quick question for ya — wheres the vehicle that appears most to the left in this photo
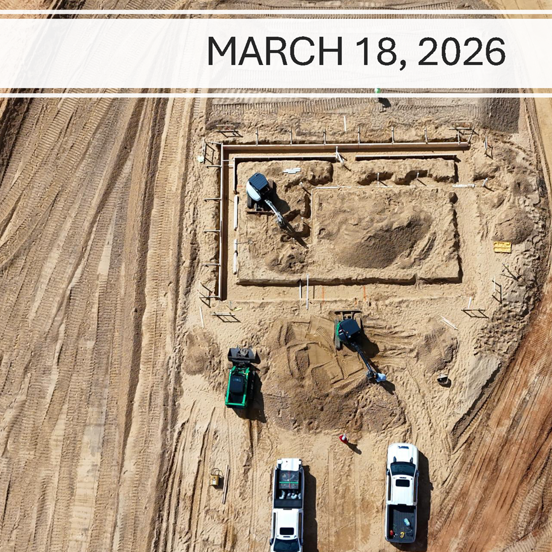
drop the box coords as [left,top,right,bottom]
[223,353,259,411]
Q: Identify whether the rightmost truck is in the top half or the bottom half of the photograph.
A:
bottom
